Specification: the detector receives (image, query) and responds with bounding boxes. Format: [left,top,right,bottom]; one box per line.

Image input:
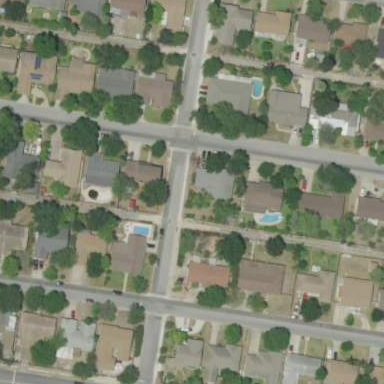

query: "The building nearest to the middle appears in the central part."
[196,166,235,200]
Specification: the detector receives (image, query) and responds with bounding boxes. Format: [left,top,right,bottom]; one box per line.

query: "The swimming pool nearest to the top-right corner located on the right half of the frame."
[252,76,264,100]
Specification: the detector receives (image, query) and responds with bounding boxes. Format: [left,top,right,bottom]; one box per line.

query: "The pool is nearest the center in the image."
[126,222,156,236]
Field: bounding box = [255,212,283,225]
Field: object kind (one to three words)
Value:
swimming pool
